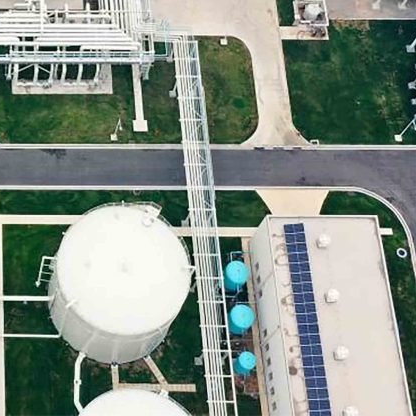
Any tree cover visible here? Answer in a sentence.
No, there's no tree cover in this view.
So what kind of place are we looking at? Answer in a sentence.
The area seen from above is an industrial area.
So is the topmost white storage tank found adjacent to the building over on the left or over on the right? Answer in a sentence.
It is on the left.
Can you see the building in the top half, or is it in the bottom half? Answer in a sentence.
You can find the building in the bottom half.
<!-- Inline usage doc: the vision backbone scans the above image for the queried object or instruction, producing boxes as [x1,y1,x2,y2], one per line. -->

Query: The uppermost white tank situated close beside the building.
[42,204,200,367]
